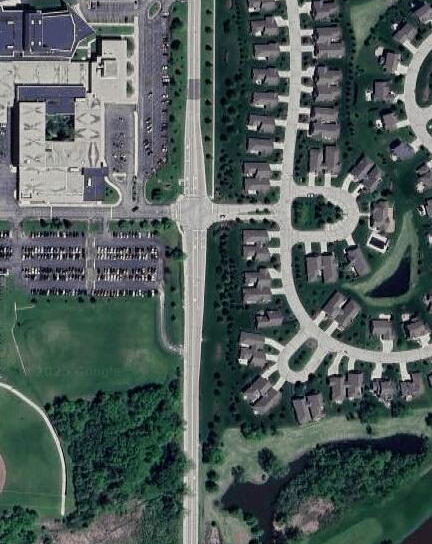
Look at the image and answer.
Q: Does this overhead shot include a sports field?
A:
Yes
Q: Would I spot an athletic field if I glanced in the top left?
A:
No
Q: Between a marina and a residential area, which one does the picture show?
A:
residential area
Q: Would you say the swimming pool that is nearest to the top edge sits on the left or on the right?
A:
right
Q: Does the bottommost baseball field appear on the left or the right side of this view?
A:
left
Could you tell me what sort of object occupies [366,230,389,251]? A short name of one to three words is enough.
swimming pool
